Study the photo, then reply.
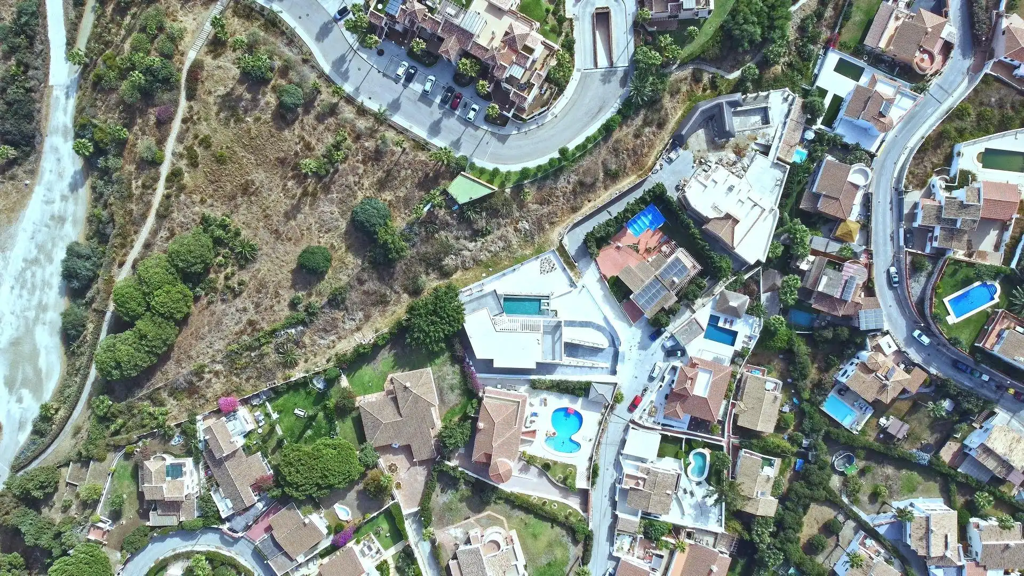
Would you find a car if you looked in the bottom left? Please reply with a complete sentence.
Yes, there is a car in the bottom left.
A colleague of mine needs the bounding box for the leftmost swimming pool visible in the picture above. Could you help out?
[167,464,184,479]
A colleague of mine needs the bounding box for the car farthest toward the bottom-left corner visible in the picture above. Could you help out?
[250,498,268,514]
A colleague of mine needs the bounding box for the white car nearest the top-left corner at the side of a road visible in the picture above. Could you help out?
[395,60,410,79]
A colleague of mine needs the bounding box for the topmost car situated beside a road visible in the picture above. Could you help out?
[334,5,351,22]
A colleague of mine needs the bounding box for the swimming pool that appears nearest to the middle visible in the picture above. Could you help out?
[502,297,543,316]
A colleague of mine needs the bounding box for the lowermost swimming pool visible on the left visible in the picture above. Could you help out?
[333,504,352,520]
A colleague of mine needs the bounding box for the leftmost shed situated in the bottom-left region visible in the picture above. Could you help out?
[87,515,120,543]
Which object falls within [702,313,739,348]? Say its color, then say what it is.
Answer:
blue swimming pool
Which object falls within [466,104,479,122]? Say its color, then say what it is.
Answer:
white vehicle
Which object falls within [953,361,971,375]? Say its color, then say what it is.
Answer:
blue car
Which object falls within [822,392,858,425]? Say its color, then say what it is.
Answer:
blue swimming pool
